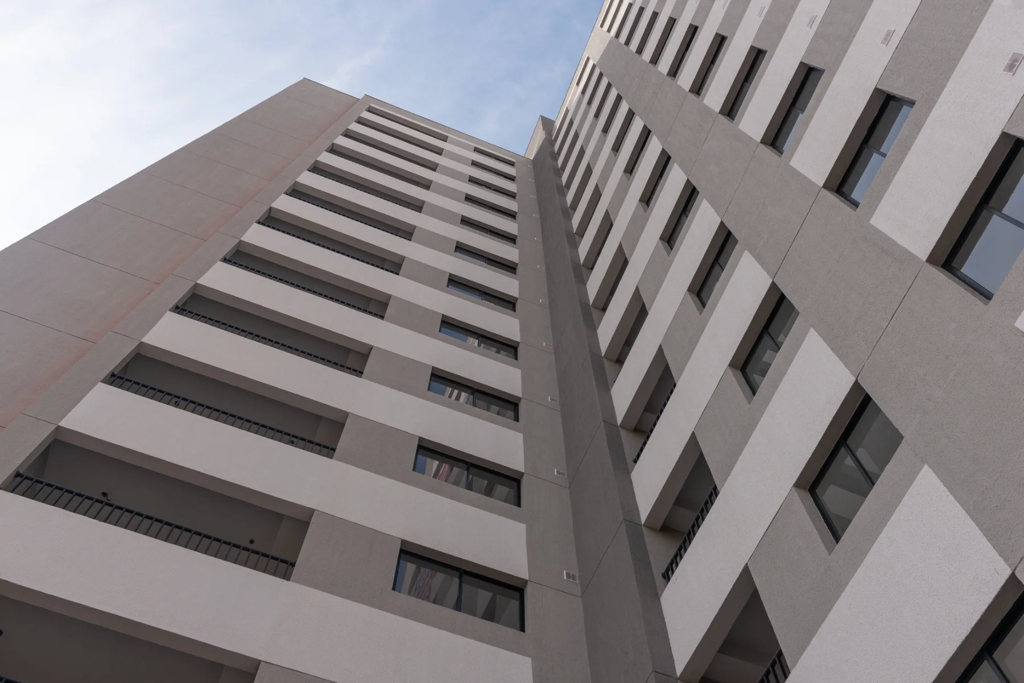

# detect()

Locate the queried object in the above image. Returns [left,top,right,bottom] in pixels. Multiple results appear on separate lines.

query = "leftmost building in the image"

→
[0,77,591,683]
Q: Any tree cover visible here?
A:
No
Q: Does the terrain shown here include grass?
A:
No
